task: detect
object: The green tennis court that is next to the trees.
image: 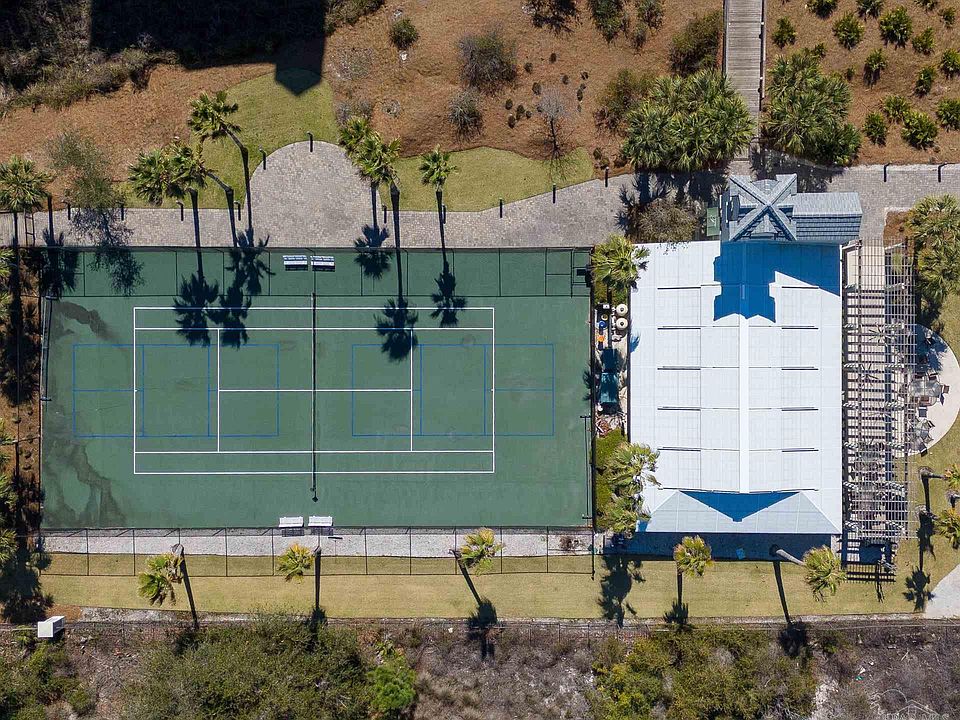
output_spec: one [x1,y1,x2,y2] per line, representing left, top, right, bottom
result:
[42,250,592,529]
